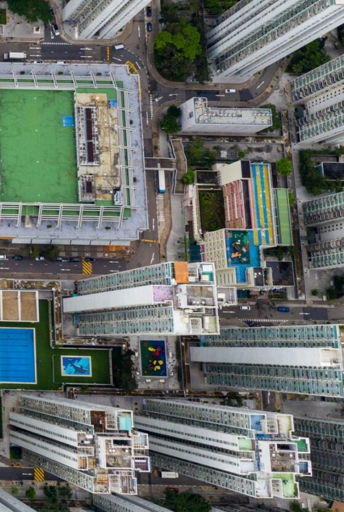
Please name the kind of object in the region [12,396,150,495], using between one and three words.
building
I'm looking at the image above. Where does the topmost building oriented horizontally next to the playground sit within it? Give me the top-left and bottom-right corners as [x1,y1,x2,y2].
[71,262,237,337]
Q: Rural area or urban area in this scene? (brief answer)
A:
urban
